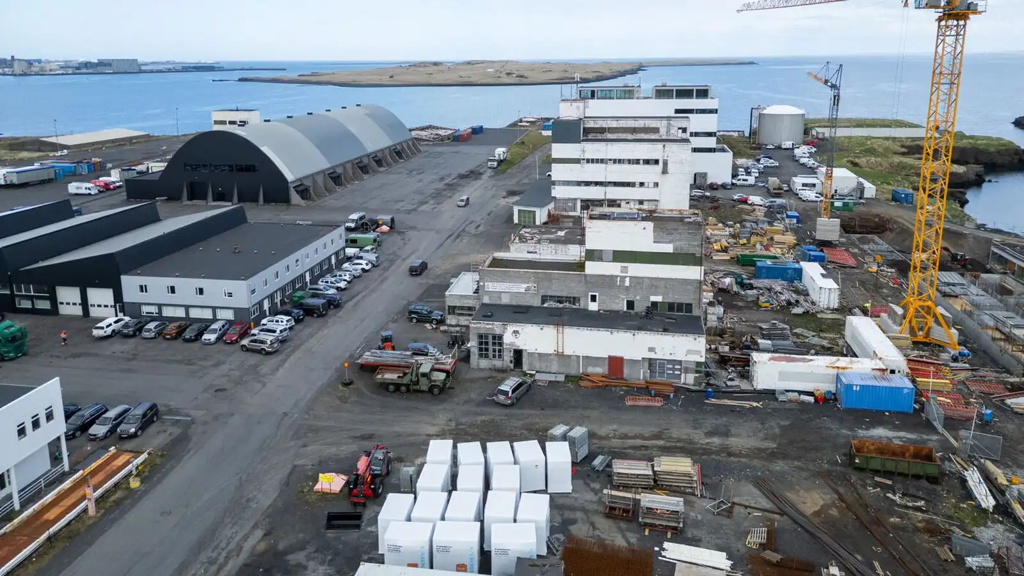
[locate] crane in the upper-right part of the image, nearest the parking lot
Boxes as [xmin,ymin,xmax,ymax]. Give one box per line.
[803,51,851,246]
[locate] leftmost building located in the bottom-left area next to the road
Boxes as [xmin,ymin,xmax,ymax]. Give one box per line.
[0,374,74,522]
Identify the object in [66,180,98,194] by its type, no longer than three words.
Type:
camper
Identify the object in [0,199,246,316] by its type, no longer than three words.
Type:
building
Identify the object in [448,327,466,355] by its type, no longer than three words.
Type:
work vehicle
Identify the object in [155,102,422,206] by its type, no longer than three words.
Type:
hangar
